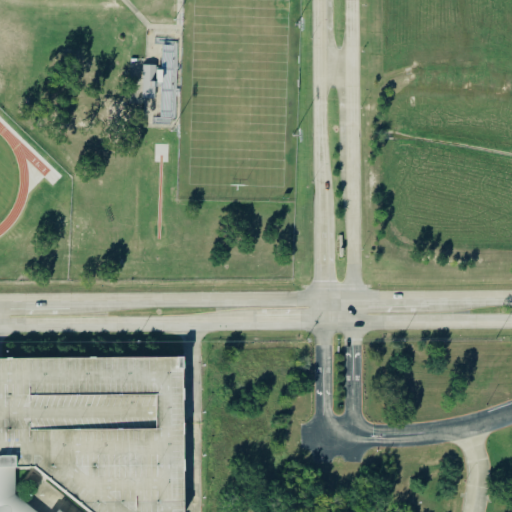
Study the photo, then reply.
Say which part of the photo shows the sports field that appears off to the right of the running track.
top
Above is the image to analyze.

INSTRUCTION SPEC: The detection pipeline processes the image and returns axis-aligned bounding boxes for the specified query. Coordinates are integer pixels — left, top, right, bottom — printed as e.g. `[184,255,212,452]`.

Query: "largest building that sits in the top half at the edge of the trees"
[143,64,156,101]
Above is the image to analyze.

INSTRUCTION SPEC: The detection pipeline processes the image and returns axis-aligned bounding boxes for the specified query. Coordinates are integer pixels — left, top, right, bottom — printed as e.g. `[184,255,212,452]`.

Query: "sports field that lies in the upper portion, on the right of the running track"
[184,0,294,192]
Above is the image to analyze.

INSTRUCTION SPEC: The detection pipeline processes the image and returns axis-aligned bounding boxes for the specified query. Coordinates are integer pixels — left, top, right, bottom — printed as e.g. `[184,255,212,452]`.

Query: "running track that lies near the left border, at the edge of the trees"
[0,118,67,234]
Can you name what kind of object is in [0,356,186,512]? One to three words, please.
building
